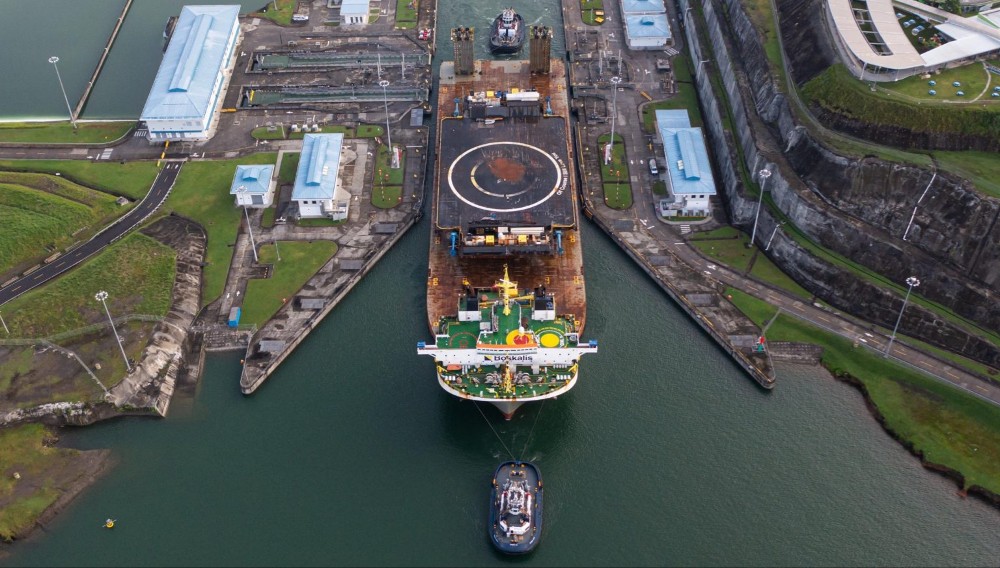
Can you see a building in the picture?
Yes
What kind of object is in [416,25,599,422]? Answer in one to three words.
ship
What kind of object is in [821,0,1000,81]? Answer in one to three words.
building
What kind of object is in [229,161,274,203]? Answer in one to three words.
building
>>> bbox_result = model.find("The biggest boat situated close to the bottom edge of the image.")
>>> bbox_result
[485,458,545,557]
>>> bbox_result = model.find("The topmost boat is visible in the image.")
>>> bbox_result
[489,3,525,56]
